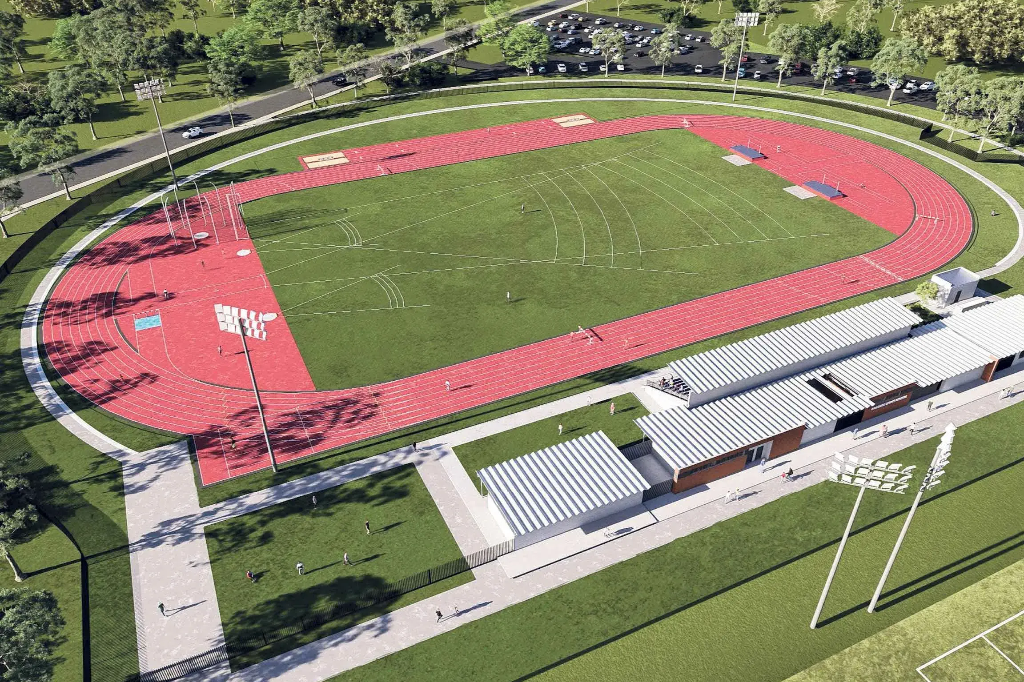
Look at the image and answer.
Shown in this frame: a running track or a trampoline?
running track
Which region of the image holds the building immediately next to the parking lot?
right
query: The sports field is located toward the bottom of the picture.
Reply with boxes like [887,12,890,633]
[781,559,1024,682]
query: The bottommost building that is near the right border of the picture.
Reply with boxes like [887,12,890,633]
[631,290,1024,492]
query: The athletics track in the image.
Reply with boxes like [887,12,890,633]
[44,113,972,442]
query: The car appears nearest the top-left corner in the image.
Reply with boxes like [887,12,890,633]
[182,125,203,137]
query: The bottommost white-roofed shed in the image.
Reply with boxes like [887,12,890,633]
[475,430,650,549]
